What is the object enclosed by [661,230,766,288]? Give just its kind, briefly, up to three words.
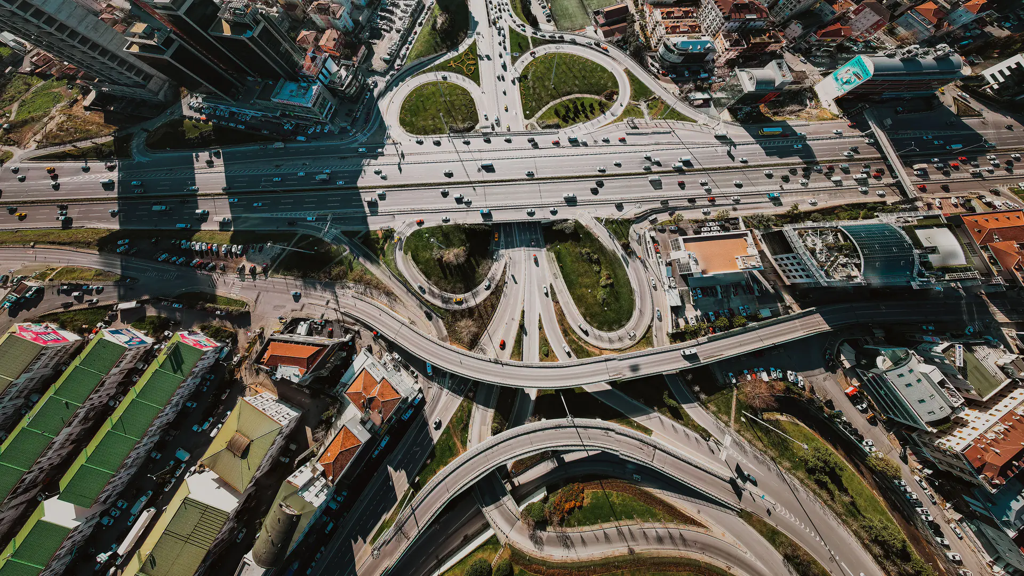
building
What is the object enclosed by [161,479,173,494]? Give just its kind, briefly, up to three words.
vehicle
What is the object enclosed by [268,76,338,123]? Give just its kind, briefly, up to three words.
building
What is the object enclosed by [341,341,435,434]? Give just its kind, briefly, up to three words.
house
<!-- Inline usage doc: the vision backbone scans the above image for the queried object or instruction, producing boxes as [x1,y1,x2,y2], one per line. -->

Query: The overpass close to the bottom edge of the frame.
[347,415,857,576]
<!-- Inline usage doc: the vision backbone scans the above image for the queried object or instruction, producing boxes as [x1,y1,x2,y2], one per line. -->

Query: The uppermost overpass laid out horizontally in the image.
[266,287,1024,390]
